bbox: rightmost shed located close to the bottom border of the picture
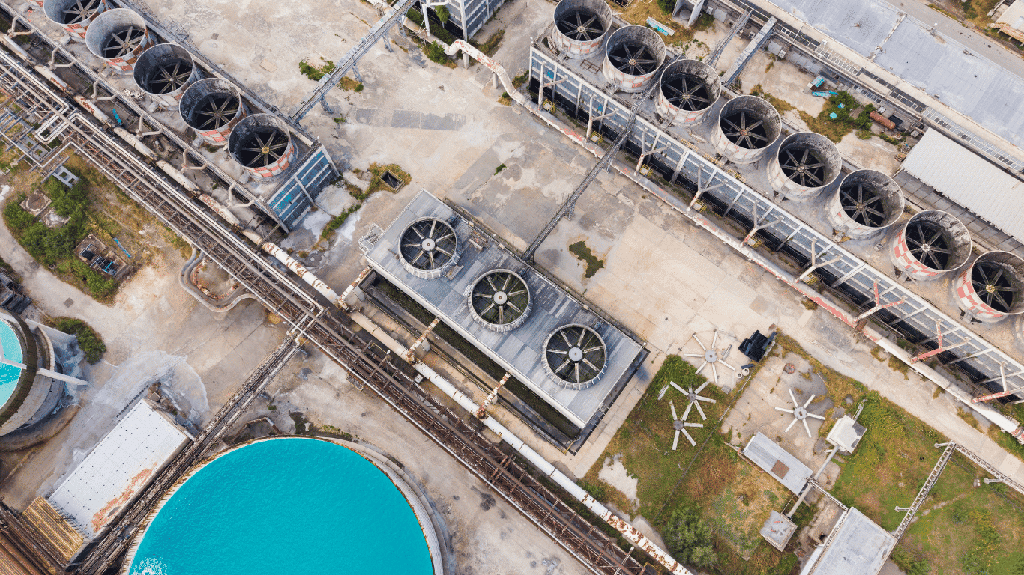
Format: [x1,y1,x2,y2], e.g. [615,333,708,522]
[795,504,901,575]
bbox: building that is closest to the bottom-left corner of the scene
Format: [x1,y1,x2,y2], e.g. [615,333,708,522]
[49,400,188,542]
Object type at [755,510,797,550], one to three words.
shed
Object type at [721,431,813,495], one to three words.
shed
